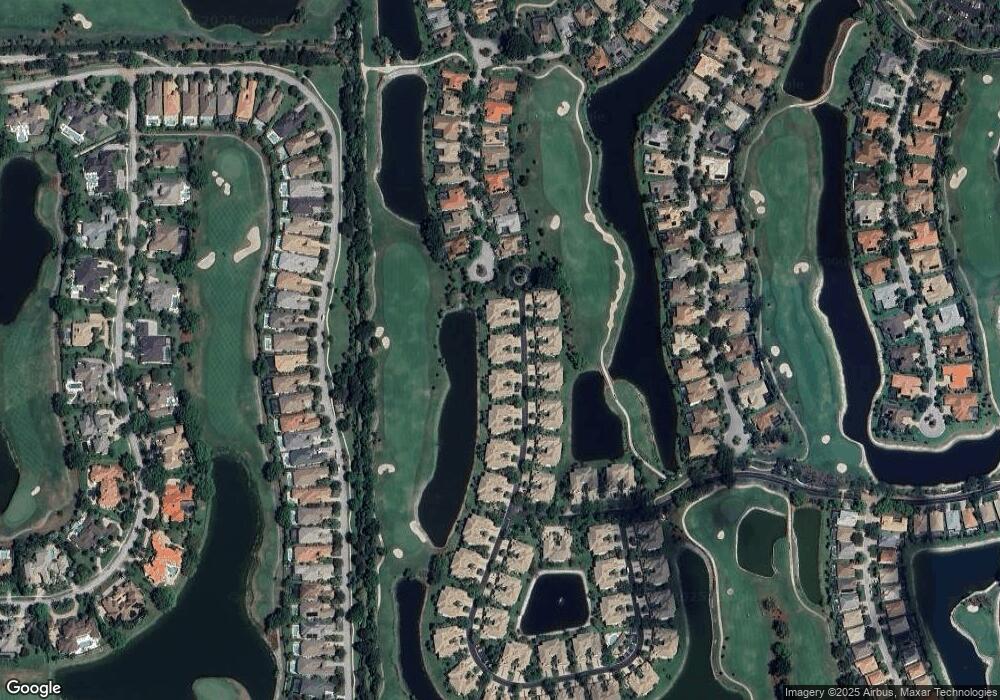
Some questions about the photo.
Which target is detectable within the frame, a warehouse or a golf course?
golf course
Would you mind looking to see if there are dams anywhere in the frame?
No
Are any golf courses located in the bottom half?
Yes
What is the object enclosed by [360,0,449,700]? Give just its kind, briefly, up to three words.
golf course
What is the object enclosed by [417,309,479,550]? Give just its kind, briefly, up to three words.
pond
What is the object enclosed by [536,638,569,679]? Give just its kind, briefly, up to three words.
house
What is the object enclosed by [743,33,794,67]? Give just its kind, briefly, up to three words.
house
